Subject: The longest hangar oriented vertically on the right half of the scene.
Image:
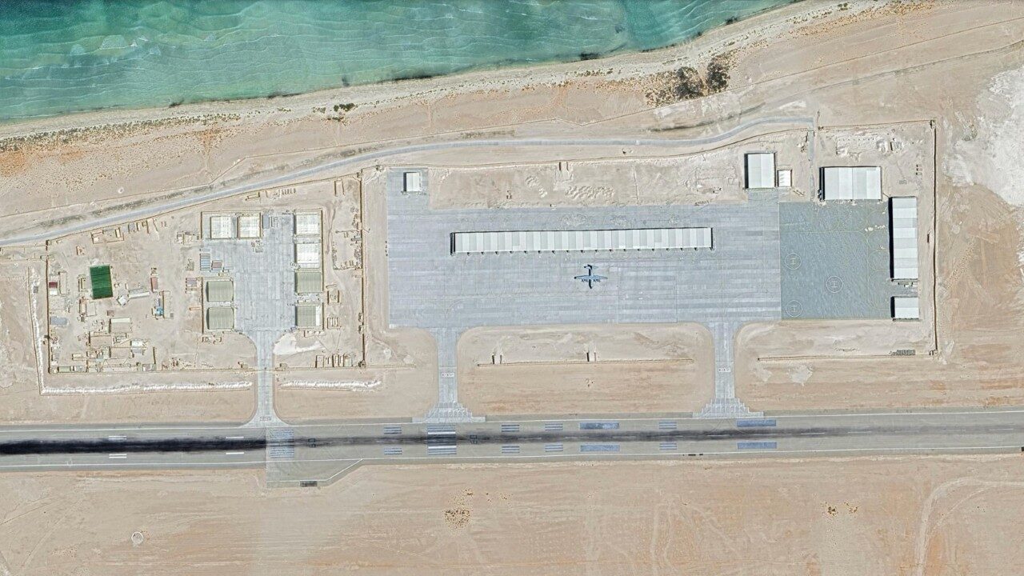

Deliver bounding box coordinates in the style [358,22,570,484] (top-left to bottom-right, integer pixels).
[892,197,918,281]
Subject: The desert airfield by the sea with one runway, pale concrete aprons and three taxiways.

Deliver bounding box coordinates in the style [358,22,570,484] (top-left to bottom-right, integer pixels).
[0,167,1024,488]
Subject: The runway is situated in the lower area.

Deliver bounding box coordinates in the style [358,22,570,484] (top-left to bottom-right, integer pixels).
[0,405,1024,488]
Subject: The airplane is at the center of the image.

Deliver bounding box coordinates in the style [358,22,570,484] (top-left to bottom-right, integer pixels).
[576,266,608,289]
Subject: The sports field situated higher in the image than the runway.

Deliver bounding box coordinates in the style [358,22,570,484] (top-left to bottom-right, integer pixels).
[90,264,113,299]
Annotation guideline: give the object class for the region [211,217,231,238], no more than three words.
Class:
hangar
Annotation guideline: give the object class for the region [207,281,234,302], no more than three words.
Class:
hangar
